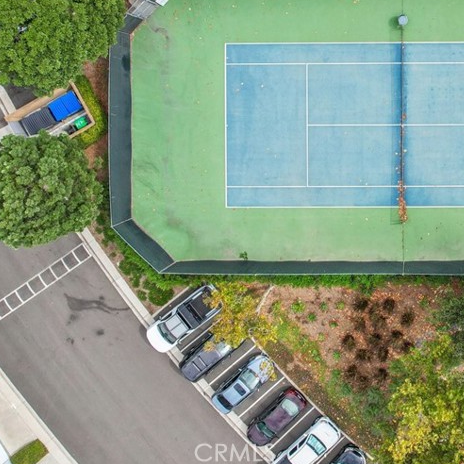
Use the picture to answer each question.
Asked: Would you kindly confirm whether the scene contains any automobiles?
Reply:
Yes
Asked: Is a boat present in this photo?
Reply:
No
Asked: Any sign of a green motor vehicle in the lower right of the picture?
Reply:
No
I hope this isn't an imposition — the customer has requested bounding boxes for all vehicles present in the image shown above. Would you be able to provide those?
[326,440,369,464]
[269,413,340,464]
[174,324,245,387]
[212,350,278,415]
[147,283,225,351]
[248,383,310,446]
